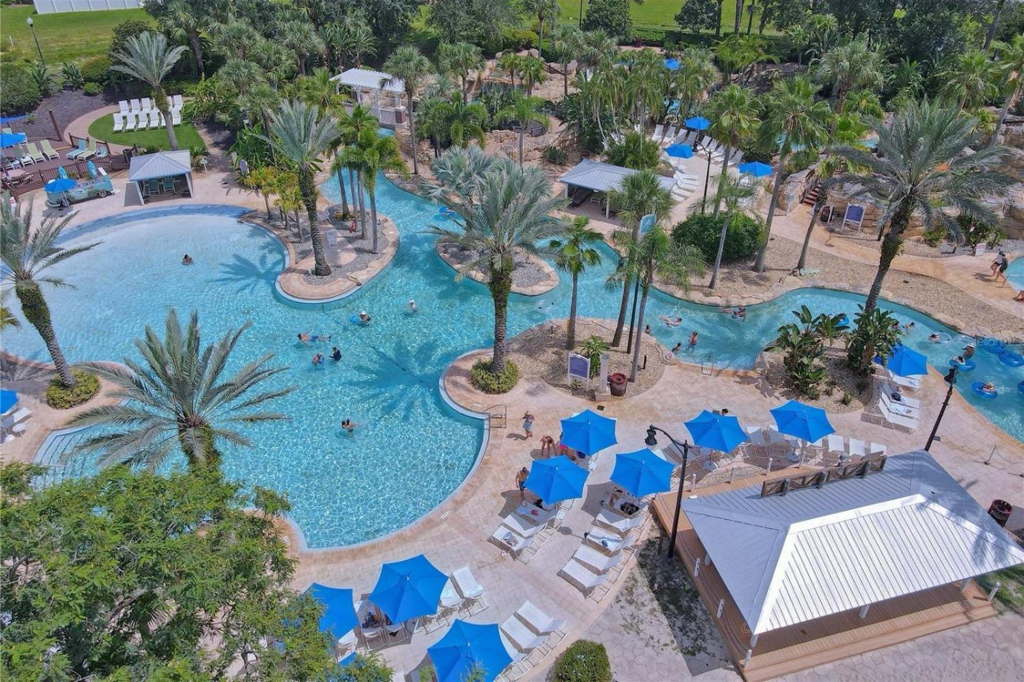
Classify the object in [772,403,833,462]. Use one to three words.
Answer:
umbrella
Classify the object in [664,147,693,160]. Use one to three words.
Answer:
umbrella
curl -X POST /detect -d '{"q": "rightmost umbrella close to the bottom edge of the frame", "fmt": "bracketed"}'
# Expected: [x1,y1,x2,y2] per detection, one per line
[427,623,512,682]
